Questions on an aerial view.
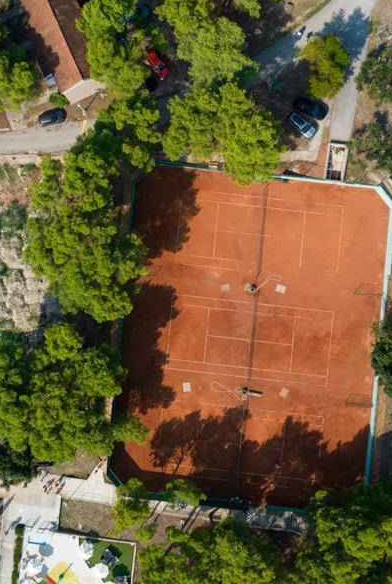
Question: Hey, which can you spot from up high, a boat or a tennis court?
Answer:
tennis court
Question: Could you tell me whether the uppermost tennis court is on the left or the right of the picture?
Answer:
right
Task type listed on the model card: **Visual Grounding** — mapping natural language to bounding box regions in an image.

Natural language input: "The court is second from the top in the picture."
[115,260,387,392]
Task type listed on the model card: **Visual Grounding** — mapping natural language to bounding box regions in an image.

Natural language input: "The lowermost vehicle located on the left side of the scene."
[35,108,65,126]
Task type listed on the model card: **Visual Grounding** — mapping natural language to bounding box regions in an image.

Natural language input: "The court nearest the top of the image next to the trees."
[130,163,392,288]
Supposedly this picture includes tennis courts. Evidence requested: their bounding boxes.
[109,365,378,509]
[130,163,392,288]
[115,260,387,392]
